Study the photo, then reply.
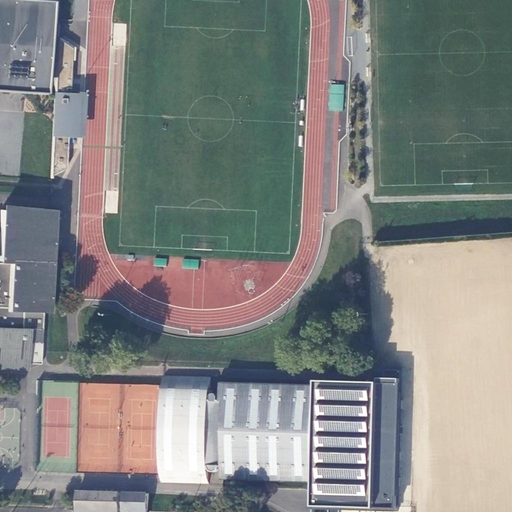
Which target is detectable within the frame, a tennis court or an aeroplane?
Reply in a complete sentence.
This aerial view contains a tennis court.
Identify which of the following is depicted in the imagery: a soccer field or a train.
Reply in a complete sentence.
Of the two, only a soccer field appears.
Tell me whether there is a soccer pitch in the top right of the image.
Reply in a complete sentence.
Yes, in the top right of the image there is a soccer pitch.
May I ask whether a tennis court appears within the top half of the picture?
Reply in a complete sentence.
No, no tennis court appears within the top half of the picture.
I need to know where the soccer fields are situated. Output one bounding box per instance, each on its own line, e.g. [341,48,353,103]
[104,0,312,262]
[372,0,512,195]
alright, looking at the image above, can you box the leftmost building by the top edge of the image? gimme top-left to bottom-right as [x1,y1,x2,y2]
[0,0,64,95]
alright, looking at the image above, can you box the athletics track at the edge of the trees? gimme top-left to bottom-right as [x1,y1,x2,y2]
[76,0,334,333]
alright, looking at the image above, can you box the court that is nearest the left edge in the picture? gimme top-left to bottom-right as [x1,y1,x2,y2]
[0,408,20,471]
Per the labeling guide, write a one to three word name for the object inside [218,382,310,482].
building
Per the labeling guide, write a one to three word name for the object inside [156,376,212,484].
building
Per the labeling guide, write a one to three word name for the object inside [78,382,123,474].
tennis court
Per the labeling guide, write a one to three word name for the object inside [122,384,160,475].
tennis court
